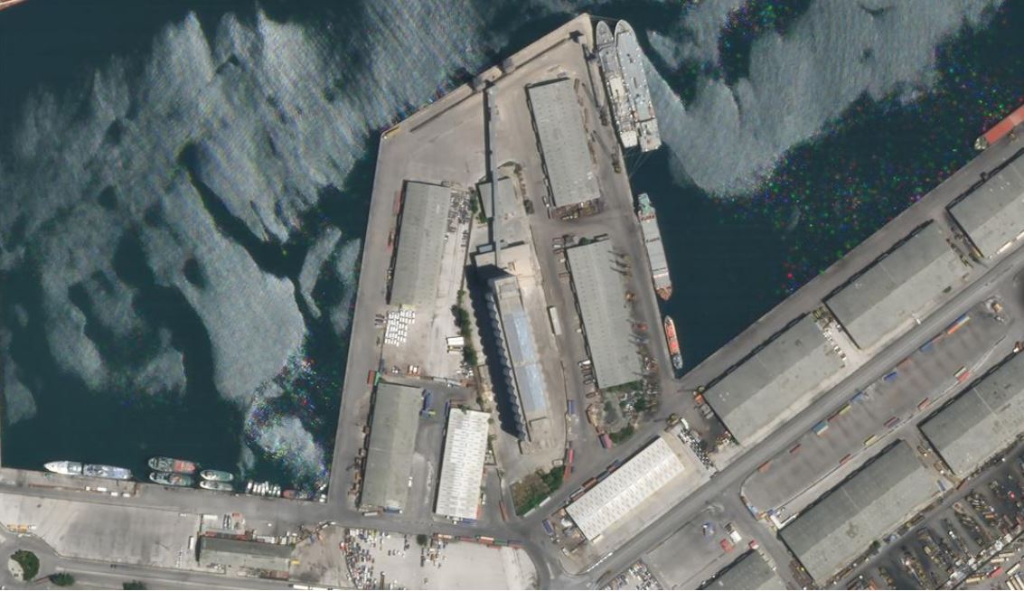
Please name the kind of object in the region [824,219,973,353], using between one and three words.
warehouse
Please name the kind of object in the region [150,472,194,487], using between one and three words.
vessel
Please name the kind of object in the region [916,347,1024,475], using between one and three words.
building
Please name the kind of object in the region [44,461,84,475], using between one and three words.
ship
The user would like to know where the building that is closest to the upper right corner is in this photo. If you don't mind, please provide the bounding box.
[947,149,1024,258]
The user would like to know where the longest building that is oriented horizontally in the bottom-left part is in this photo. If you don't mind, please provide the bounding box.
[200,537,295,571]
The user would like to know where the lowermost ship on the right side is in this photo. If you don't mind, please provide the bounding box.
[665,316,683,370]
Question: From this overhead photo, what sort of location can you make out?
port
